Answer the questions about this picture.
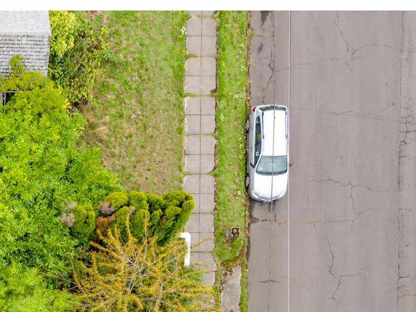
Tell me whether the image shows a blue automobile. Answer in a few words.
No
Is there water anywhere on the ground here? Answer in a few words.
No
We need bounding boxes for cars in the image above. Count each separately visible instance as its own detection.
[243,104,294,202]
